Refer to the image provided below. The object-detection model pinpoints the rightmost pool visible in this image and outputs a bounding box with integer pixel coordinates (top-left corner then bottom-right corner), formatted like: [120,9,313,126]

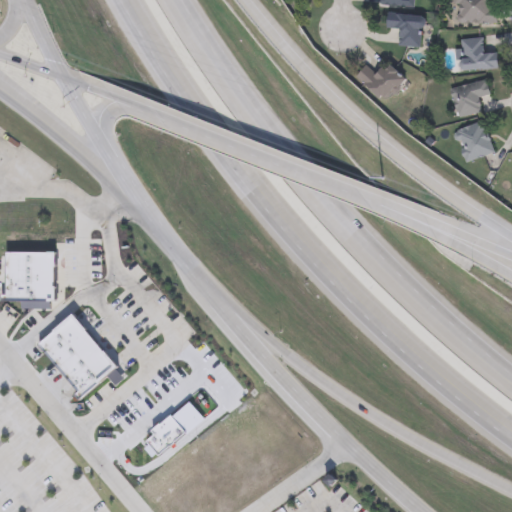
[445,48,460,72]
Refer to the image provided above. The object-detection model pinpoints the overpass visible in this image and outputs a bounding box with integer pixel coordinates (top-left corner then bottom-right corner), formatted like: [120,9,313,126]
[78,70,512,282]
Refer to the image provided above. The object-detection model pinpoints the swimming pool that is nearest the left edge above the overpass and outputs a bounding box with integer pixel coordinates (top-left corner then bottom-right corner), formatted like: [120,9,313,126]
[406,46,428,65]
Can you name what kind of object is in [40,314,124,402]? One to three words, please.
building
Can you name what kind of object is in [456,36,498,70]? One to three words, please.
house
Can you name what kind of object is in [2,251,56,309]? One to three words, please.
building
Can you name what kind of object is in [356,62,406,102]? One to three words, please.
house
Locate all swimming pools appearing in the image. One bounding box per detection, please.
[406,46,428,65]
[445,48,460,72]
